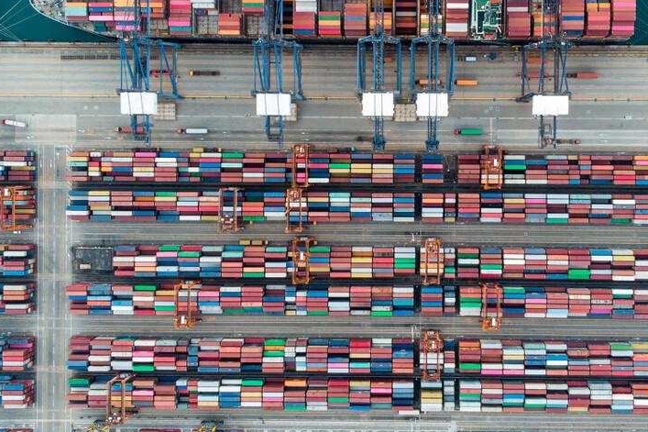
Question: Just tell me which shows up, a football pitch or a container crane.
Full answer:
Of the two, only a container crane appears.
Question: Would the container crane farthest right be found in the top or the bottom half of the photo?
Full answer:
The top half of the photo is where the container crane farthest right is.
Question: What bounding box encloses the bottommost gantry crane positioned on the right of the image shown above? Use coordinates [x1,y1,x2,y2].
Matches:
[420,323,442,380]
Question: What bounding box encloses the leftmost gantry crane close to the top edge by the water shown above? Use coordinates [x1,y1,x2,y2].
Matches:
[118,0,184,143]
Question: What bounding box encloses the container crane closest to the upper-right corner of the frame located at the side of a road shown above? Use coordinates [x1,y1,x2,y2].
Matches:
[519,0,572,146]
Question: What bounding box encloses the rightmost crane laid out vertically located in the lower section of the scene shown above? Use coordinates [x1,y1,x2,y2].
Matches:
[477,276,501,331]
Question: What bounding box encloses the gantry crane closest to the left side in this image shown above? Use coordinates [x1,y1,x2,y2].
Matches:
[0,182,34,232]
